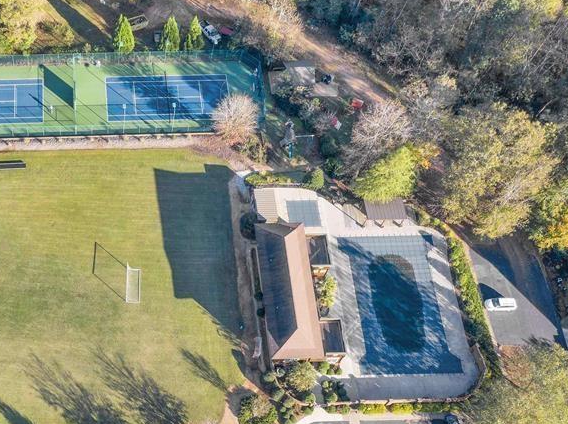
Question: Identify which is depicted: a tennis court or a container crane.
tennis court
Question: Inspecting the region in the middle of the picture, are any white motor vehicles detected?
No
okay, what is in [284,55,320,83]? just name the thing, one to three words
shed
